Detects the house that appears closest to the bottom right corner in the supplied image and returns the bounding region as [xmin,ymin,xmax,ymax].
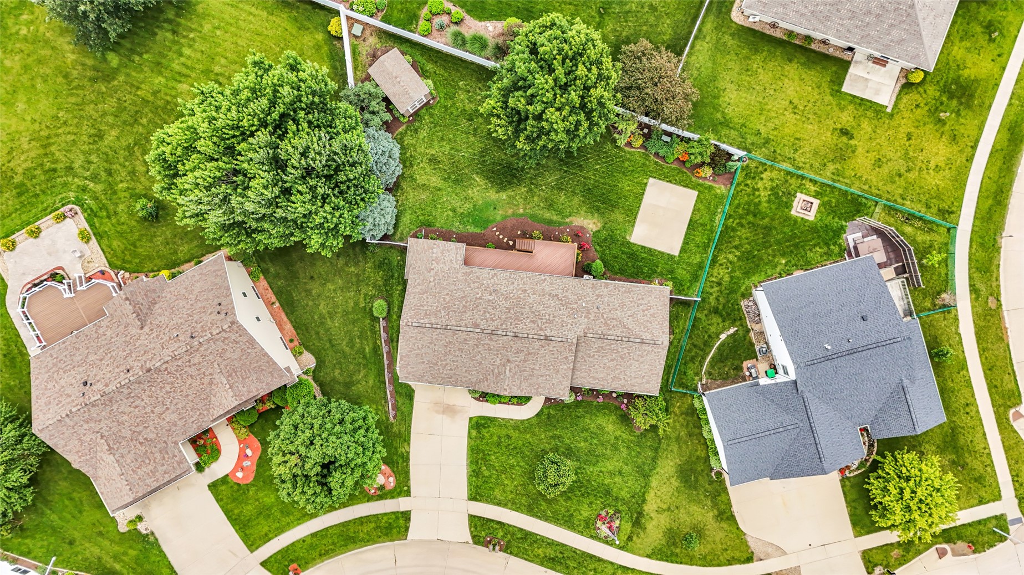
[702,253,947,488]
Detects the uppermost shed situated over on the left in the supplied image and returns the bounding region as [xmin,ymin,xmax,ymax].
[367,47,432,116]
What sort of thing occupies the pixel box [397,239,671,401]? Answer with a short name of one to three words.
house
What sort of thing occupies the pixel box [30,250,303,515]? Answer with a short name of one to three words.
house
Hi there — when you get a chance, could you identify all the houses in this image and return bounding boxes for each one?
[397,239,671,401]
[702,253,947,488]
[30,250,303,515]
[0,559,37,575]
[738,0,956,73]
